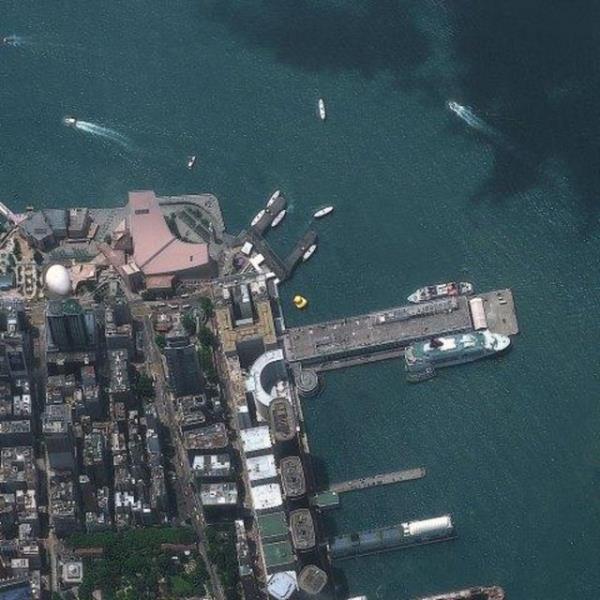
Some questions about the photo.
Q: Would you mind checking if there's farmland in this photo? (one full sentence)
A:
No, no farmland is visible.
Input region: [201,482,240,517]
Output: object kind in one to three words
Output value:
building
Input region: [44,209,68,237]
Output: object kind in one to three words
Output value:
building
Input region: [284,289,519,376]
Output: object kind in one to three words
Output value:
pier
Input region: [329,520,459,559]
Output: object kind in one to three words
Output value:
pier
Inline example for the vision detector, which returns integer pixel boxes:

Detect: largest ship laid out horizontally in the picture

[405,332,511,369]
